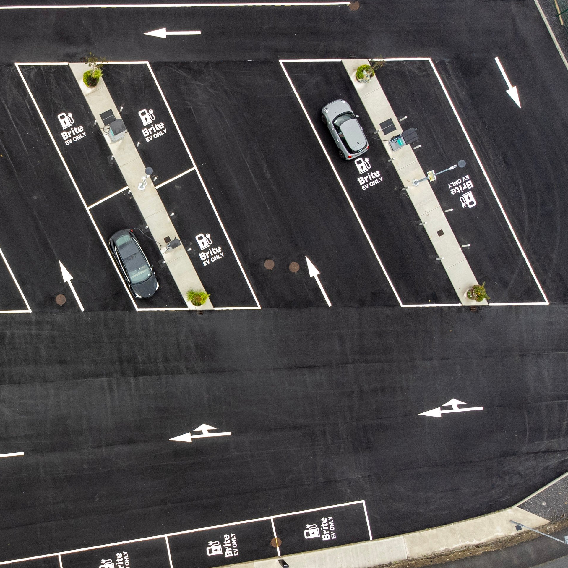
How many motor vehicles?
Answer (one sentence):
The count of motor vehicles comes to 2.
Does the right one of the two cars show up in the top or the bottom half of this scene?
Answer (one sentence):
It is in the top half that the right one of the two cars appears.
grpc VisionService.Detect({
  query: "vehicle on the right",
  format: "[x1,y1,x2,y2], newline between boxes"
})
[321,98,371,160]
